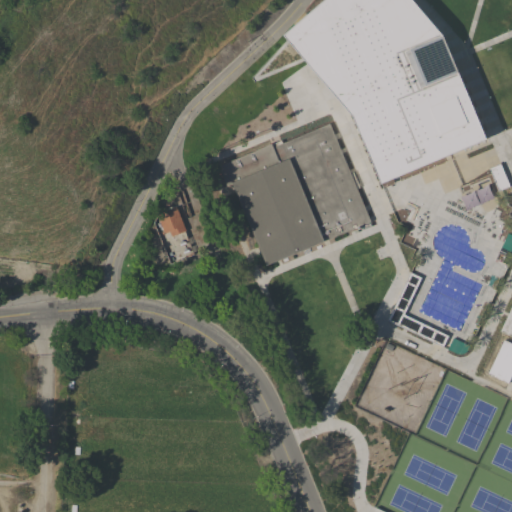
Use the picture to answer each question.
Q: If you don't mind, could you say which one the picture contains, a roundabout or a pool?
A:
pool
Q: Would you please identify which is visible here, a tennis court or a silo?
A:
tennis court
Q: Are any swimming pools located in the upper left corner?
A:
No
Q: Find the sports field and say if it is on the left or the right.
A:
left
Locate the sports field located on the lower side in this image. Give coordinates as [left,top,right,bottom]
[71,347,274,512]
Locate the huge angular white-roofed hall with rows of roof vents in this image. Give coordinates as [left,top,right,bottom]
[285,0,486,184]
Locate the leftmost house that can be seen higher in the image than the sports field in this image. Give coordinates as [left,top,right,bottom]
[158,208,188,238]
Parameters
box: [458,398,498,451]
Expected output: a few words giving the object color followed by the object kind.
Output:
blue tennis court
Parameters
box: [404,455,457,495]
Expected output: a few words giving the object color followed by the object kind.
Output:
blue tennis court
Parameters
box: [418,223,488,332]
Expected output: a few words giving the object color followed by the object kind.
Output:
blue swimming pool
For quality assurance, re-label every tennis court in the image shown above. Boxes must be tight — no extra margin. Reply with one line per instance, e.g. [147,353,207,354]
[390,486,443,512]
[472,486,512,512]
[492,443,512,472]
[426,384,466,436]
[458,398,498,451]
[404,455,457,495]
